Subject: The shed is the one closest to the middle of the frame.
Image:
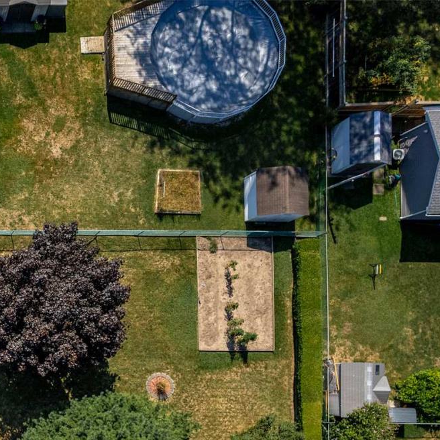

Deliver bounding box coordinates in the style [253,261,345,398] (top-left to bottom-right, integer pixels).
[242,164,310,222]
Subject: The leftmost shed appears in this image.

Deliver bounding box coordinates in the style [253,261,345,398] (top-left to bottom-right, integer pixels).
[0,0,68,31]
